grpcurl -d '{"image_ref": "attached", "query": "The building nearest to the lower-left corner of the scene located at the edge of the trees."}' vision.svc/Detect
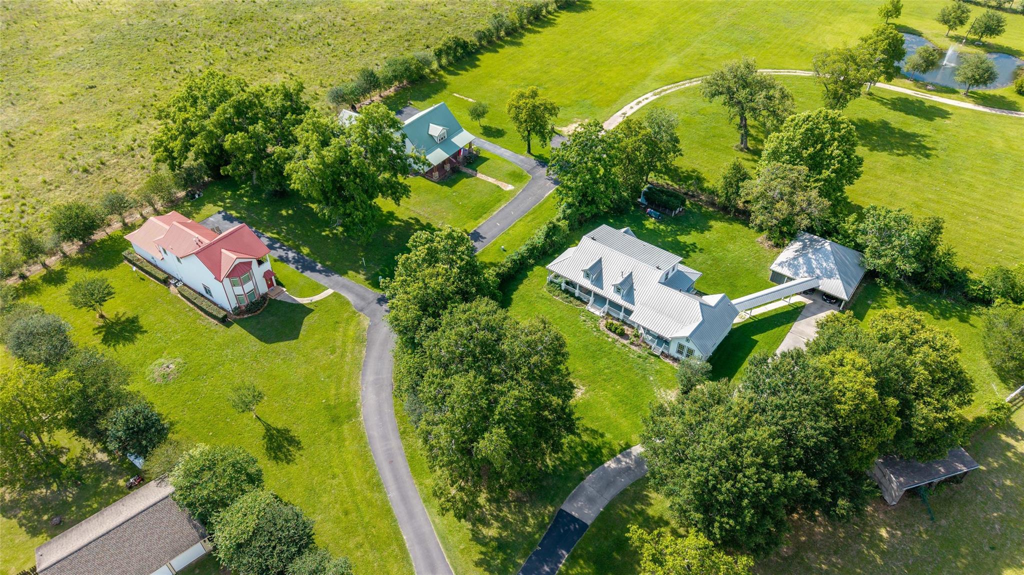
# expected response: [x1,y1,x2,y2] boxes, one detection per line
[36,466,217,575]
